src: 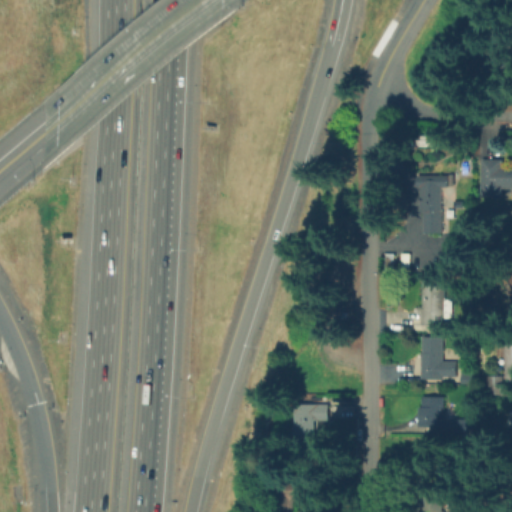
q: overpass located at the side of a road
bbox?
[0,0,250,206]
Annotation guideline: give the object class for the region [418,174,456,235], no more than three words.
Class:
house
